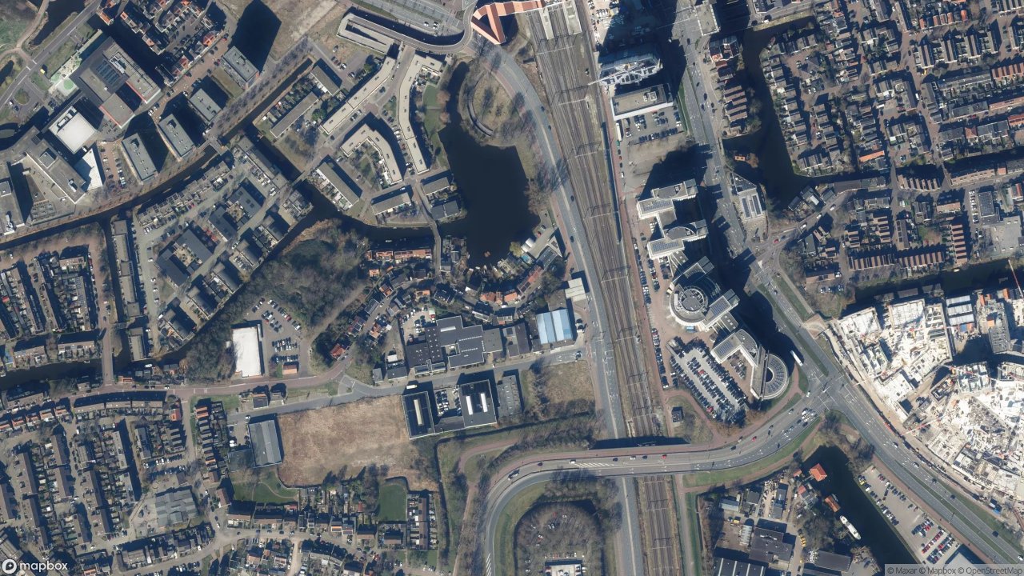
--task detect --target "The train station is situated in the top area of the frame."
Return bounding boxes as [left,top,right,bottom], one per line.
[471,0,582,45]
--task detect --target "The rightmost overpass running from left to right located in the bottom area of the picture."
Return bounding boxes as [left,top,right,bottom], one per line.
[472,401,814,576]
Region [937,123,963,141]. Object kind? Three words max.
building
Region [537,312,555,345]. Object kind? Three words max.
building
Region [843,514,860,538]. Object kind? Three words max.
boat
